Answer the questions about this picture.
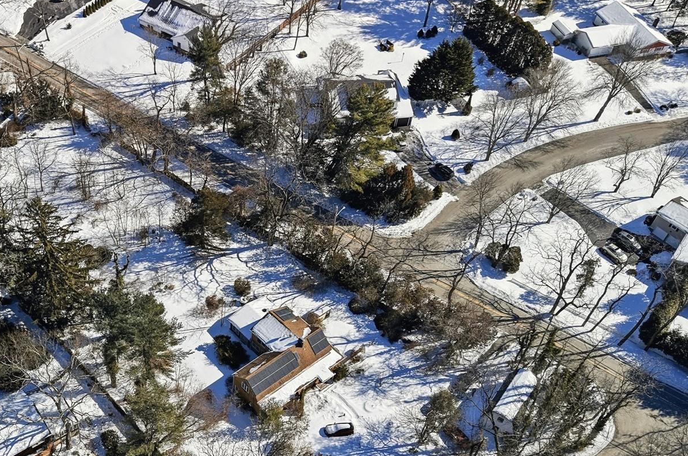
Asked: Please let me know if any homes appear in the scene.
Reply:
Yes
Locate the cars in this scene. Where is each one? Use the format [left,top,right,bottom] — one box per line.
[429,163,454,176]
[620,227,643,249]
[396,136,413,152]
[602,239,627,261]
[324,422,356,438]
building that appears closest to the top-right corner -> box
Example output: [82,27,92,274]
[569,1,674,65]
